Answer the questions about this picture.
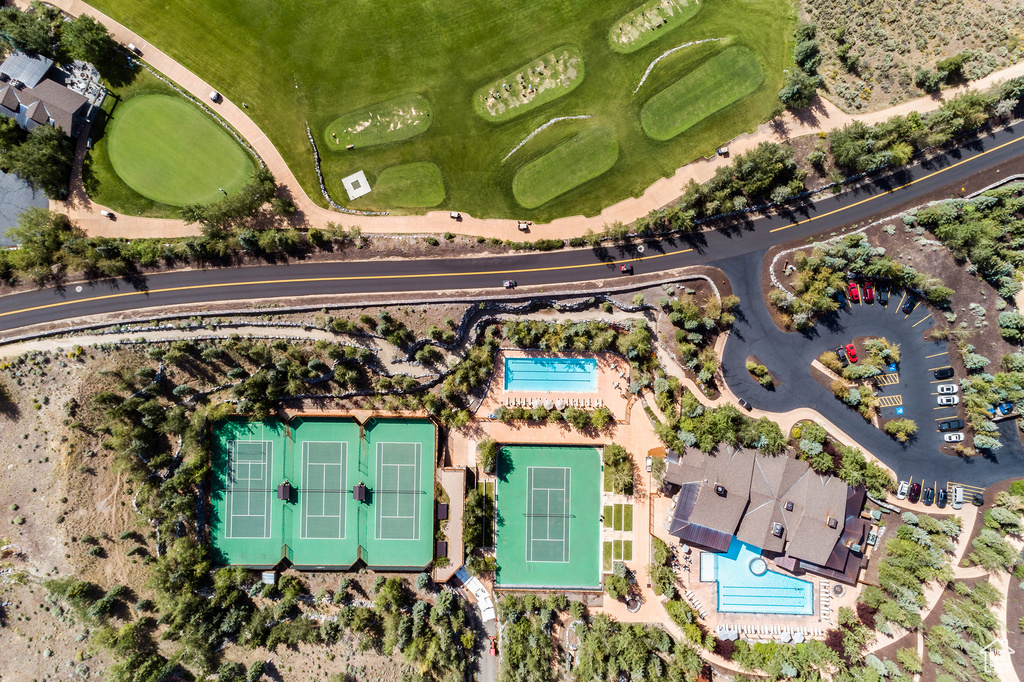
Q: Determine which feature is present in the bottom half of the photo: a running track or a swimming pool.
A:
swimming pool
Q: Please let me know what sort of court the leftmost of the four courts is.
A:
tennis court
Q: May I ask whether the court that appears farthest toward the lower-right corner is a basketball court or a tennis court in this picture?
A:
tennis court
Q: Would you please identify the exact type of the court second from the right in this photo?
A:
tennis court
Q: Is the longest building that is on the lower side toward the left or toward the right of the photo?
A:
right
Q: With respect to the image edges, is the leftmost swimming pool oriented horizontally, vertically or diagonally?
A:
horizontally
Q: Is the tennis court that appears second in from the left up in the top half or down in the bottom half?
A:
bottom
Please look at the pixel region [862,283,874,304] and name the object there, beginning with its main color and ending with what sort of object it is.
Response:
red vehicle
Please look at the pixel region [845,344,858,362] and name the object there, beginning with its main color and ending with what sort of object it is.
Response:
red vehicle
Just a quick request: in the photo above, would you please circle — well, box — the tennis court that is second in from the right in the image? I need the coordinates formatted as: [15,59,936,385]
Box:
[359,419,434,566]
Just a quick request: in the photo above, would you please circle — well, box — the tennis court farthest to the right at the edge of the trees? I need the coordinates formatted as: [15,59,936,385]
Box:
[496,445,602,586]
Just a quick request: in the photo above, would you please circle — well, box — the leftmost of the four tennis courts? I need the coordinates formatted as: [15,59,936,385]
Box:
[210,417,285,566]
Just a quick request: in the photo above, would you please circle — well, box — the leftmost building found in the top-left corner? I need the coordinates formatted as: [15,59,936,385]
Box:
[0,51,95,138]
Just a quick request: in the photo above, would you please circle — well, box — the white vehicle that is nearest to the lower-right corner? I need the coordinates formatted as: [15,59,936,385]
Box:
[951,485,964,509]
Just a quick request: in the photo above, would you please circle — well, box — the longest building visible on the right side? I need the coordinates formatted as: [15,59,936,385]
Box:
[664,445,871,585]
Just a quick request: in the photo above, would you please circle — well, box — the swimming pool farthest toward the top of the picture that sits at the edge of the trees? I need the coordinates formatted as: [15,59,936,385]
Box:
[504,357,598,393]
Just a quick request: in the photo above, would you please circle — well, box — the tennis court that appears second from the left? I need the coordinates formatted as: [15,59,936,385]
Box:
[285,417,361,566]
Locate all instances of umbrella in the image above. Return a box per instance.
[727,629,738,641]
[532,399,542,408]
[779,630,791,642]
[555,399,565,409]
[792,631,804,643]
[717,628,728,640]
[544,399,553,409]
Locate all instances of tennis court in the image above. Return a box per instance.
[210,417,285,566]
[496,445,602,586]
[285,417,361,566]
[359,419,434,566]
